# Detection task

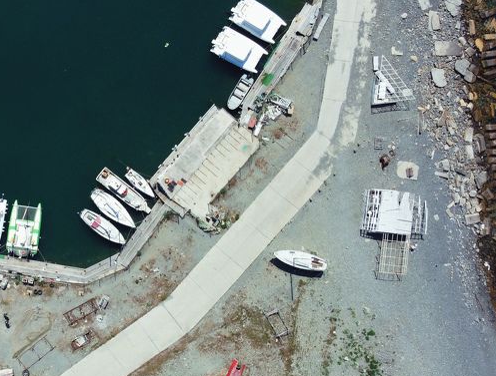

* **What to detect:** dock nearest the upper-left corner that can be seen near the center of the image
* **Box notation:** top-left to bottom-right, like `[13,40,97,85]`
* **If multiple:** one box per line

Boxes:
[147,103,260,219]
